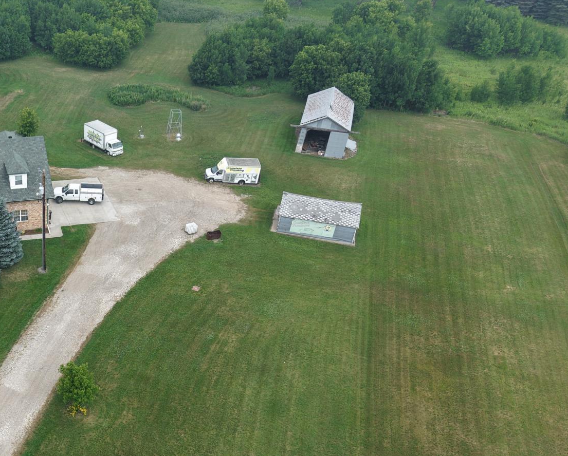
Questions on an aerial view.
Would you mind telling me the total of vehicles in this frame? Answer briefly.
3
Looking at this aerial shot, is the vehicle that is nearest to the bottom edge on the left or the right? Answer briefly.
left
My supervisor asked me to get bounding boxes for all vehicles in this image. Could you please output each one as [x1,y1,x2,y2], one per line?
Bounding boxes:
[77,118,123,155]
[204,154,259,185]
[51,184,104,205]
